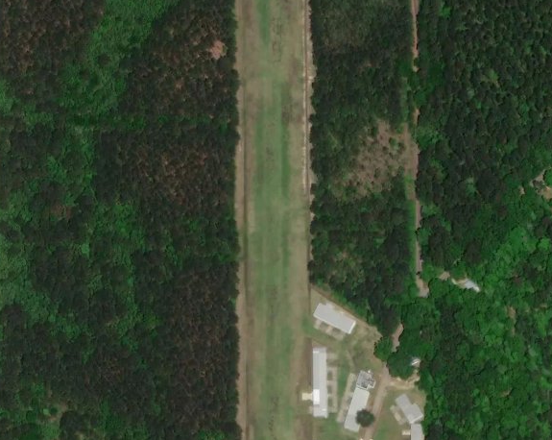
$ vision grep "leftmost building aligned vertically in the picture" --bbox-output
[313,348,328,417]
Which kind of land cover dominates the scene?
trees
